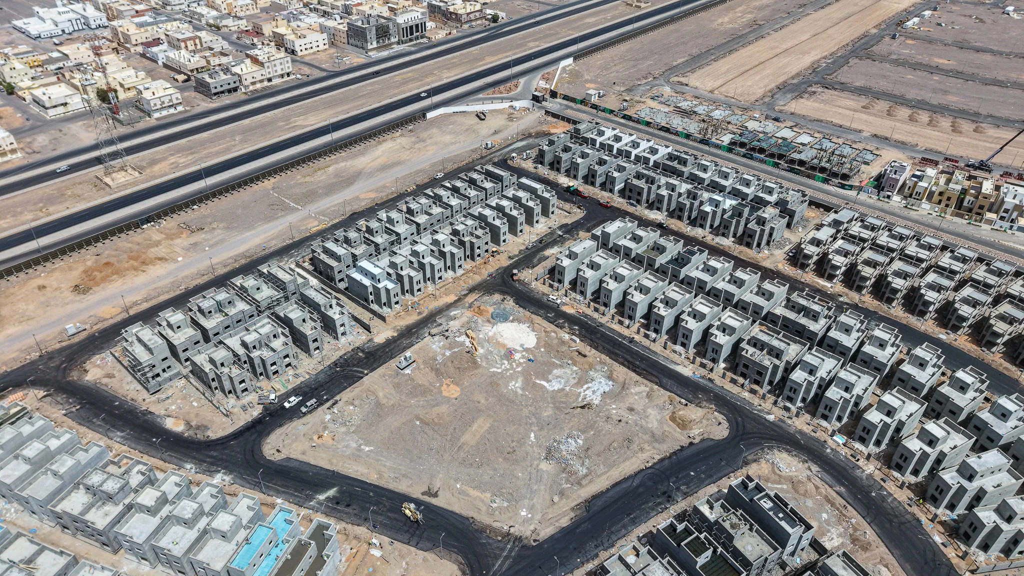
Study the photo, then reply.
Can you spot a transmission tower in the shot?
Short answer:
Yes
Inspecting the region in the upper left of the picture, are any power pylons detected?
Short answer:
Yes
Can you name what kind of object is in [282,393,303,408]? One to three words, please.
vehicle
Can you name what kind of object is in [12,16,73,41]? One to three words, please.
building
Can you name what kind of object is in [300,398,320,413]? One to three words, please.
car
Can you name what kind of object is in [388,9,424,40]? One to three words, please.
house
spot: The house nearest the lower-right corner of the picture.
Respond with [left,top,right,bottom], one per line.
[955,489,1024,557]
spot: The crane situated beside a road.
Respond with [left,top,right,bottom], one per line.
[963,132,1024,173]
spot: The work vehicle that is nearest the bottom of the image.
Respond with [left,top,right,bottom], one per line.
[400,497,423,523]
